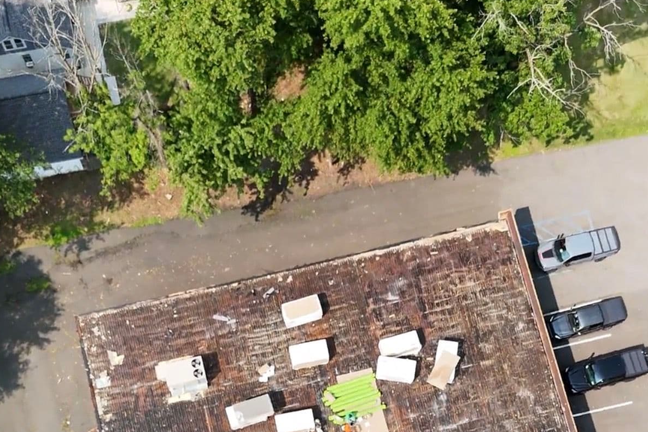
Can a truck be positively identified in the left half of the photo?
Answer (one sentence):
No, there is no truck in the left half of the photo.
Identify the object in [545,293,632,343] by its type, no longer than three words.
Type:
truck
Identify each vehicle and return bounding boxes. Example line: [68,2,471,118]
[545,293,632,343]
[561,343,648,397]
[537,225,622,275]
